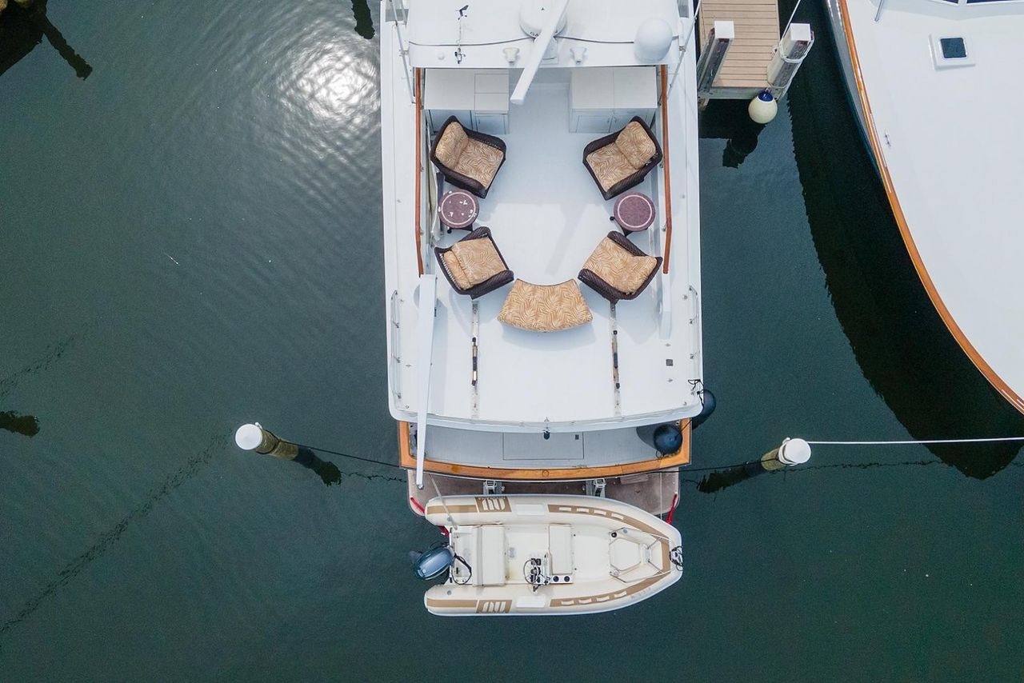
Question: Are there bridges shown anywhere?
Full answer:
No, there isn't any bridge down there.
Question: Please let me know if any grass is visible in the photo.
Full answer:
No, no grass is visible.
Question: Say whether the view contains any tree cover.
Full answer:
No, the scene doesn't show any tree cover.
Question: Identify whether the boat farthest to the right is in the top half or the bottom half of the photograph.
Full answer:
The top half of the photo is where the boat farthest to the right is.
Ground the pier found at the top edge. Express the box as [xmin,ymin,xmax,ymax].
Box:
[695,0,779,120]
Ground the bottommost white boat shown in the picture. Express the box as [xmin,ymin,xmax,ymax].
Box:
[406,493,684,617]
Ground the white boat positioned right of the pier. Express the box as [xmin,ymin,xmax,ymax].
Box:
[809,0,1024,416]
